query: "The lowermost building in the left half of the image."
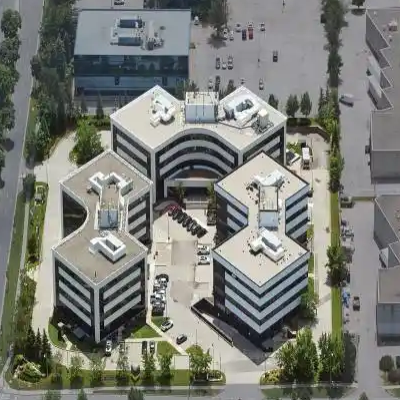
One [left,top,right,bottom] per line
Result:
[52,151,153,340]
